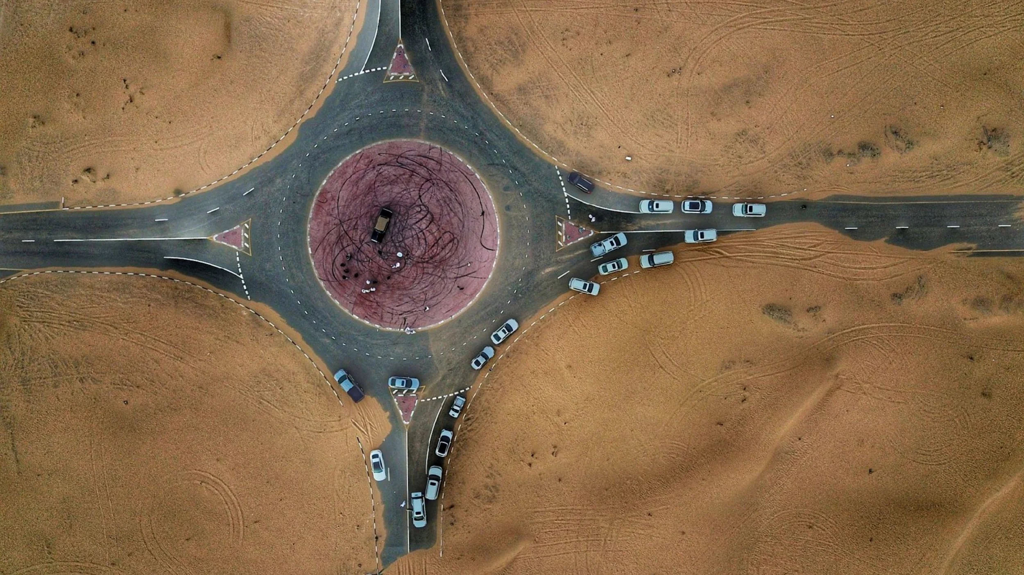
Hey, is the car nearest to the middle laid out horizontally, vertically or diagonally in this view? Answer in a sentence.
The car nearest to the middle has been laid out diagonally relative to the frame.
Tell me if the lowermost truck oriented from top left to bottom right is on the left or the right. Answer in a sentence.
The lowermost truck oriented from top left to bottom right is on the left side of the image.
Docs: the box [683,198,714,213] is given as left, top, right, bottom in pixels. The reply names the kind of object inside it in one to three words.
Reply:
car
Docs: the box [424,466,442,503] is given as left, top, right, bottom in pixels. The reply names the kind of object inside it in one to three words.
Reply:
car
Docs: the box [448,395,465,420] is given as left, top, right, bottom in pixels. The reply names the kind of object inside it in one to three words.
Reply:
vehicle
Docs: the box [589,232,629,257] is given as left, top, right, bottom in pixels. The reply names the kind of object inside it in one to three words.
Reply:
truck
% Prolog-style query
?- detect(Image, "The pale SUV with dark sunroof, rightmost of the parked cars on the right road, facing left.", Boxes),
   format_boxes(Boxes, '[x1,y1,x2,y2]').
[734,201,769,217]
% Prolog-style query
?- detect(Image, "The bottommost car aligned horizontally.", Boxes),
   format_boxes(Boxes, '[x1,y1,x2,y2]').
[387,377,419,392]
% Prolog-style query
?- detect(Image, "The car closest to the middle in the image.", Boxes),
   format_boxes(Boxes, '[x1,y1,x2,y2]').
[488,317,520,347]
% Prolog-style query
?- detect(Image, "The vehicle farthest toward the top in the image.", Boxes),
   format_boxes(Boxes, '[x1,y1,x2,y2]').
[566,170,597,194]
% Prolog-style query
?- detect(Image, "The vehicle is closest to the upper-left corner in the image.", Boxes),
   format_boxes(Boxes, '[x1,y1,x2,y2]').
[371,207,391,242]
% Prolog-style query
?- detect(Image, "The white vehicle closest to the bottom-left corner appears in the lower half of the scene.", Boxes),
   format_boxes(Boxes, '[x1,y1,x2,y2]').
[368,450,386,483]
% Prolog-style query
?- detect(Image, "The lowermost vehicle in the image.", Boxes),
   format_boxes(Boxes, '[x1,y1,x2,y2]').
[405,494,426,530]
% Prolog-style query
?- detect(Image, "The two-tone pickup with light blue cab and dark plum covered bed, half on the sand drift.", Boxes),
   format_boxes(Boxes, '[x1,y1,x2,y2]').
[332,369,365,406]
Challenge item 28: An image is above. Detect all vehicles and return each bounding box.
[566,170,597,194]
[332,369,365,406]
[488,317,520,347]
[734,201,769,217]
[470,346,496,373]
[685,228,720,243]
[387,377,419,392]
[640,198,675,213]
[598,257,629,275]
[568,277,601,295]
[448,395,465,420]
[640,251,676,268]
[371,207,391,242]
[405,494,426,530]
[435,430,453,460]
[368,450,386,483]
[424,466,442,503]
[683,198,714,213]
[589,232,629,257]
